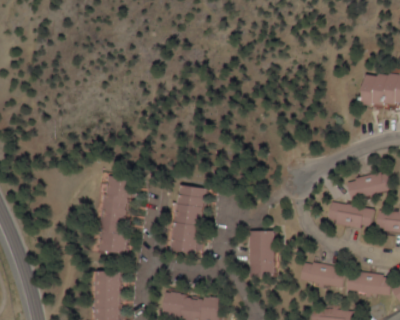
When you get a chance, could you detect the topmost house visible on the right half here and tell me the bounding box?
[364,74,400,110]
